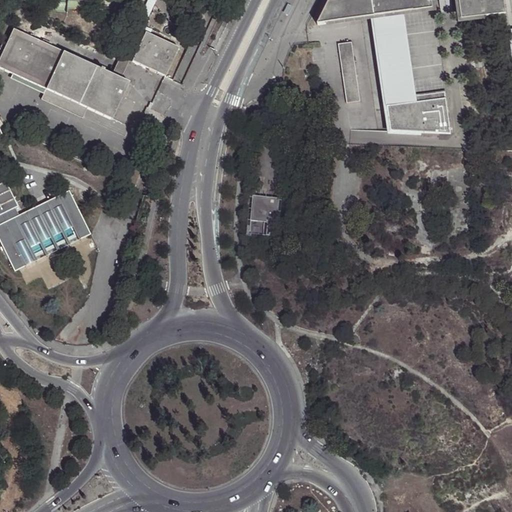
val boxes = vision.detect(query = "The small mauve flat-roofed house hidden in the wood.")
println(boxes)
[246,195,280,235]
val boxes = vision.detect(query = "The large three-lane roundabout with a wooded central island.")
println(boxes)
[95,314,304,512]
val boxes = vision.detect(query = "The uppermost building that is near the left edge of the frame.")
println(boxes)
[0,28,184,136]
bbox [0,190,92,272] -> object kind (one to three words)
building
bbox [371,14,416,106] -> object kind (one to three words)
building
